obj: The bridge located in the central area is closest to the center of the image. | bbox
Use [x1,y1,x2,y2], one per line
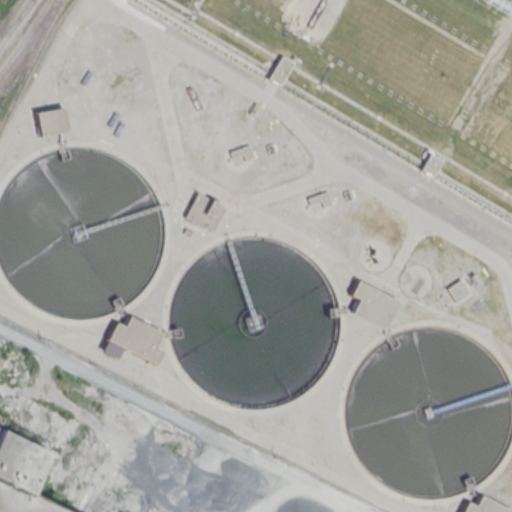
[225,234,260,332]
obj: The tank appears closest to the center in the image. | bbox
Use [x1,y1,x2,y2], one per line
[164,230,342,413]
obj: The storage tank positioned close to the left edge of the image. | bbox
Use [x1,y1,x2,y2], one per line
[0,140,170,326]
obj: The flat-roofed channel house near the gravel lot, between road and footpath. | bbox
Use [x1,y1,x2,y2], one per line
[268,57,295,88]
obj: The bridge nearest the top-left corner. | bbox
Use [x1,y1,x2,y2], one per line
[80,203,170,238]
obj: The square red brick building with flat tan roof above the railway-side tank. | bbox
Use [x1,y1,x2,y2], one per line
[36,110,70,136]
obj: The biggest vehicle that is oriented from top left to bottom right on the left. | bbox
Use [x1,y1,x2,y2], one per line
[185,87,204,111]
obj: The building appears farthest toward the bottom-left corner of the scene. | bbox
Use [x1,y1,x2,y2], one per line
[0,428,58,496]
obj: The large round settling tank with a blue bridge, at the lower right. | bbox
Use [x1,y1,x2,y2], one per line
[342,324,512,504]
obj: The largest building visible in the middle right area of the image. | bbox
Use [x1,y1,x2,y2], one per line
[350,280,400,328]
